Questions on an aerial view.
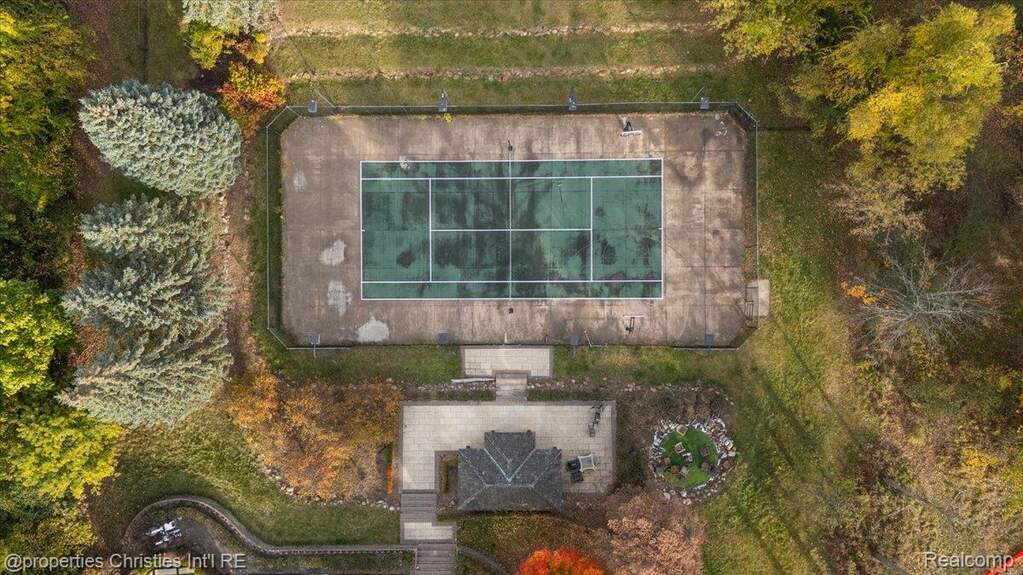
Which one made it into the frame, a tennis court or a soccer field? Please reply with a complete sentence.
I can see a tennis court in this picture.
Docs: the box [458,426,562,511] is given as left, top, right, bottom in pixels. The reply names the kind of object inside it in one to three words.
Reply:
gazebo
